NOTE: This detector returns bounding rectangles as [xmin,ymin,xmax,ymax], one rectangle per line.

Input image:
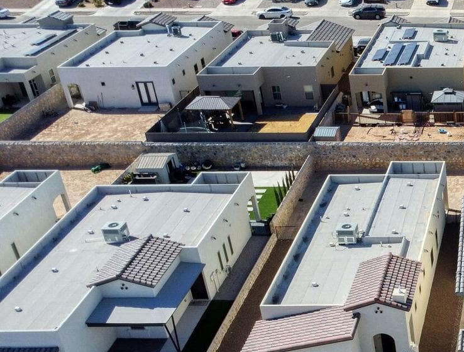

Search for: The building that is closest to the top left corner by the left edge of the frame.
[0,4,121,106]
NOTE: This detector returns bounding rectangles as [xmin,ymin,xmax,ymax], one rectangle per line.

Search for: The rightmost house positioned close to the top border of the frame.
[349,12,464,114]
